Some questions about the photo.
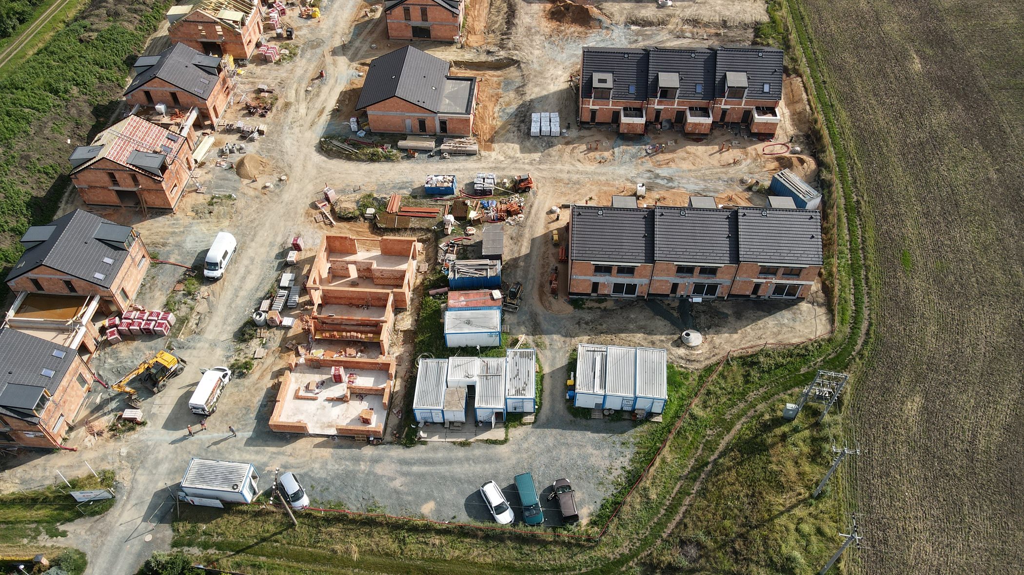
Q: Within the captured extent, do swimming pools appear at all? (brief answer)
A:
No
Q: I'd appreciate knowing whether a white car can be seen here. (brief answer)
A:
Yes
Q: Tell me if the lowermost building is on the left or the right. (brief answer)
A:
left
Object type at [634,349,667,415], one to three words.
building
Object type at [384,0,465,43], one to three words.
house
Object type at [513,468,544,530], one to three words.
van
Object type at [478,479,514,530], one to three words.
car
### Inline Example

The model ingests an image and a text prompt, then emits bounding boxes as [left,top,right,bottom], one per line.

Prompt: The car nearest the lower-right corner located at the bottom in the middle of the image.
[545,477,581,526]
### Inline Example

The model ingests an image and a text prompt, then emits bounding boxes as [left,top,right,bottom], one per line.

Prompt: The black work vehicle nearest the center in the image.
[502,280,524,311]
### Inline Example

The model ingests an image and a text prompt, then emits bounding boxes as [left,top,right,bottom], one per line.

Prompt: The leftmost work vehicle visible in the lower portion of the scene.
[112,353,187,411]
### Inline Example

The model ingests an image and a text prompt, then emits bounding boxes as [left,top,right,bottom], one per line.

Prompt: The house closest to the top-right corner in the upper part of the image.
[709,41,787,135]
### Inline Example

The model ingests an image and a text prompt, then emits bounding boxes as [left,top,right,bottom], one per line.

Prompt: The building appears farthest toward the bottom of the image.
[180,458,266,506]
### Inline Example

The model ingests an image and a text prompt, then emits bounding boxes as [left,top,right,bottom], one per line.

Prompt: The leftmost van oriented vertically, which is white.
[203,231,233,281]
